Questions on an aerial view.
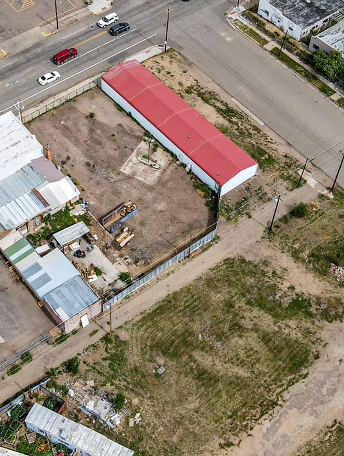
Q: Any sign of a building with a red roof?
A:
Yes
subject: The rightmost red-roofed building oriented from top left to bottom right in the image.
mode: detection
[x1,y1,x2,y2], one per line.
[98,59,256,200]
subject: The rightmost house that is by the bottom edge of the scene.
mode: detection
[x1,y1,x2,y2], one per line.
[24,403,134,456]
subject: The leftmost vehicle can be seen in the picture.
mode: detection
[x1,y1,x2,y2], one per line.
[37,71,61,86]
